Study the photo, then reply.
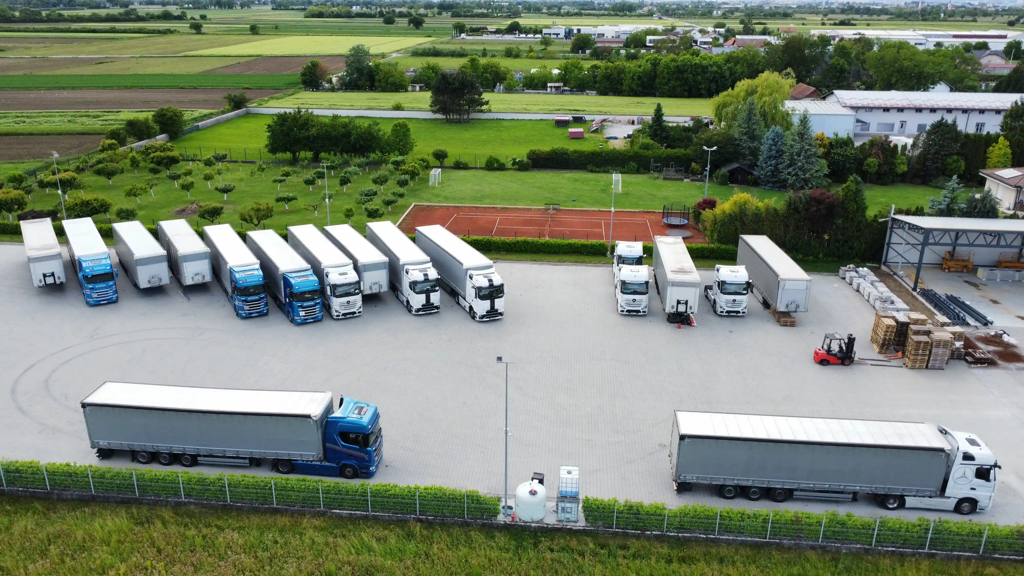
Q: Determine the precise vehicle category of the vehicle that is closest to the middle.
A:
truck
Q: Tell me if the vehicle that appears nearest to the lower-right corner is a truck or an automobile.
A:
truck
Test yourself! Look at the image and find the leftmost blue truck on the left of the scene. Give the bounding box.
[77,252,118,305]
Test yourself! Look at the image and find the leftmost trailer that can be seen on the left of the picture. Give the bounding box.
[21,219,66,288]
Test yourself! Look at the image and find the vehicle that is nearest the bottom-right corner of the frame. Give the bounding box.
[875,426,1009,514]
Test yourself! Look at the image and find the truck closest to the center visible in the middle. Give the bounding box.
[454,264,508,318]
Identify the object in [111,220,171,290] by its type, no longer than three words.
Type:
trailer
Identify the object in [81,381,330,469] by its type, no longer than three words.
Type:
trailer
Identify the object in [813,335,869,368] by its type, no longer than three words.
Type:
work vehicle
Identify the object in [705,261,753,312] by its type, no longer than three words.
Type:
truck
